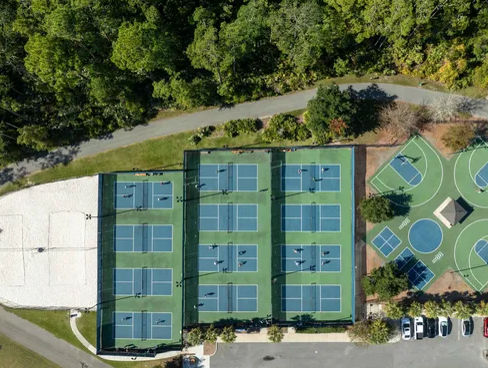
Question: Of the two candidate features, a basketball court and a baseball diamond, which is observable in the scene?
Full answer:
Looking from above, you can make out a basketball court.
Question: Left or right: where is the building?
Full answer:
You can find the building on the right side of the picture.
